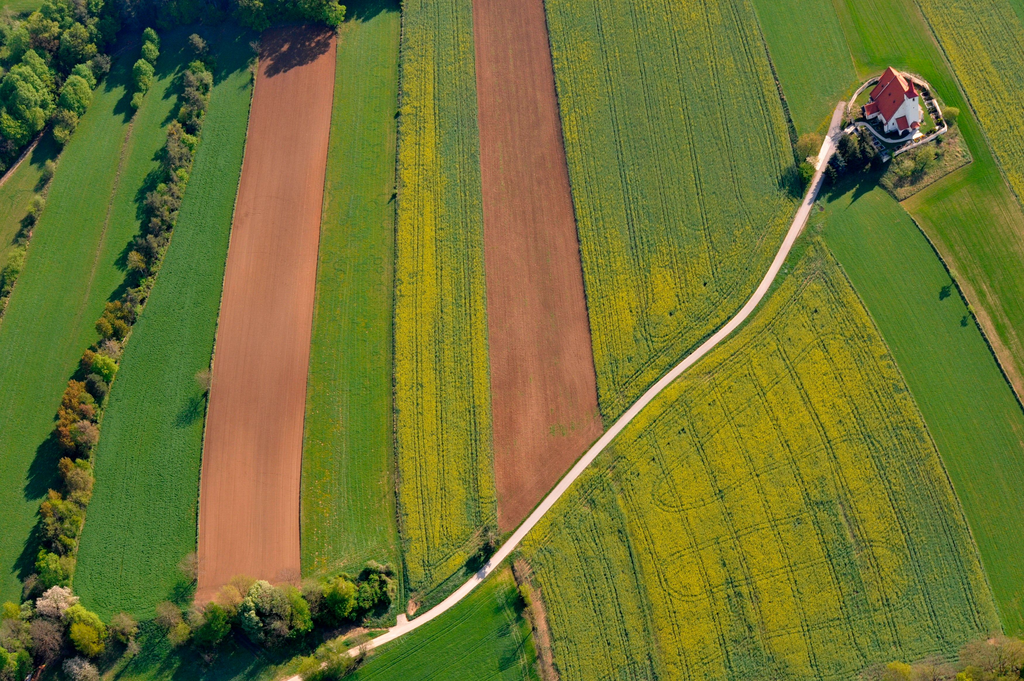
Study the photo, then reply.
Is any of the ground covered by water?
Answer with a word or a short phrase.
No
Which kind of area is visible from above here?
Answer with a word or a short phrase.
farmland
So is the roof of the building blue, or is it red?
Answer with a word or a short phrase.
red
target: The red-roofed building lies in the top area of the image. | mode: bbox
[864,66,925,136]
